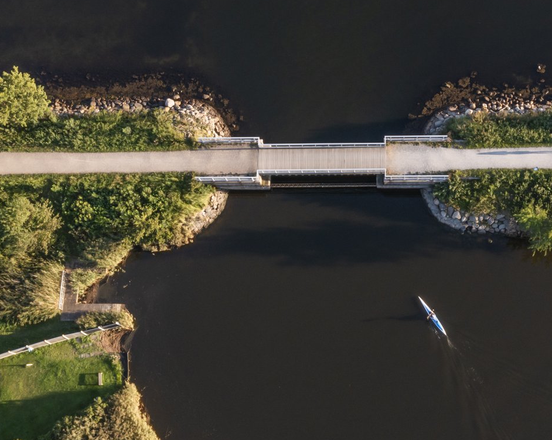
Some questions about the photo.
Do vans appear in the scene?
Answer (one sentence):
No, there appears to be no van in this shot.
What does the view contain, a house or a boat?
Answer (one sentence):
This aerial view contains a boat.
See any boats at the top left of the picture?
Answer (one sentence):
No, the scene shows no boat at the top left of the picture.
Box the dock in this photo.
[59,267,126,320]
